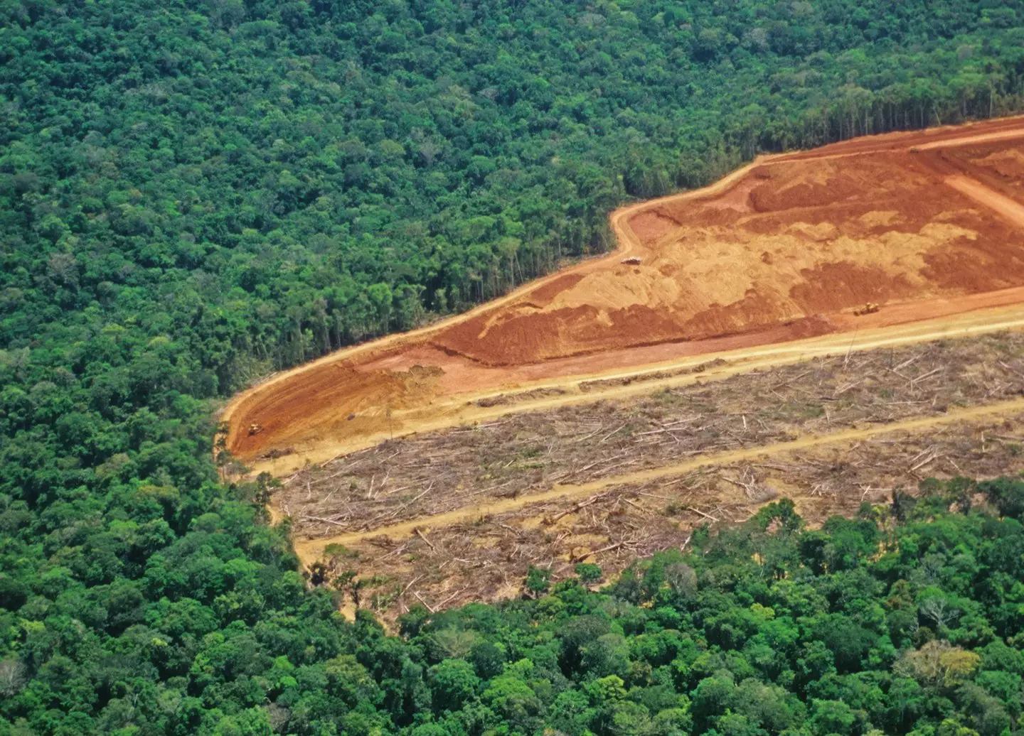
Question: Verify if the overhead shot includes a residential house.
No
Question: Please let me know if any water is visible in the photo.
No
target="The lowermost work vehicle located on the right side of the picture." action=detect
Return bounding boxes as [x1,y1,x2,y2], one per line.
[855,305,877,317]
